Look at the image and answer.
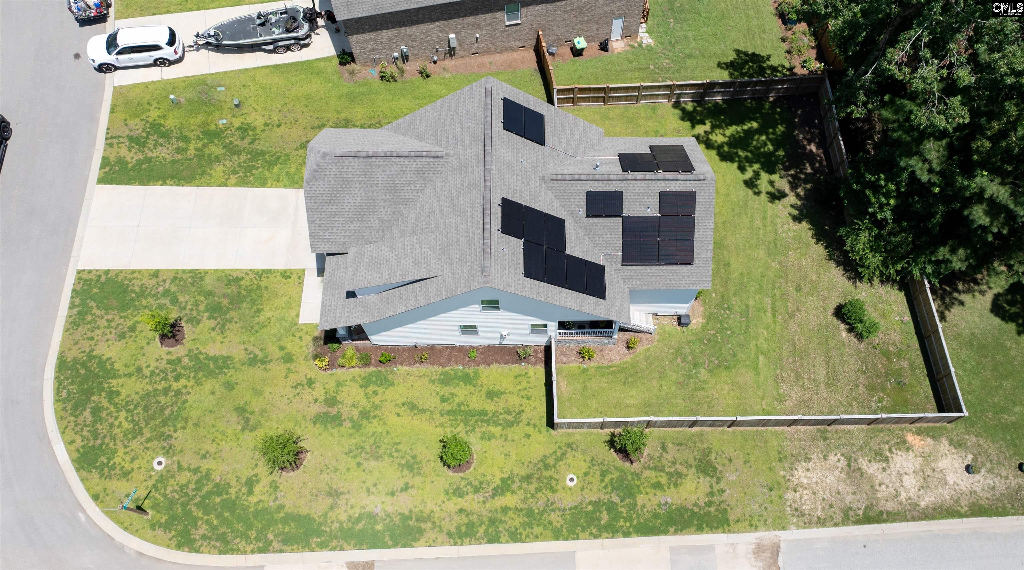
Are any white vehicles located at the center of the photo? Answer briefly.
No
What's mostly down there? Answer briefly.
grass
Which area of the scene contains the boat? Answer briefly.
top left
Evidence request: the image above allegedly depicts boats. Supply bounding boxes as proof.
[187,0,334,42]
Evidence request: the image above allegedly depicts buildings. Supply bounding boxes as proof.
[302,77,717,347]
[330,0,645,65]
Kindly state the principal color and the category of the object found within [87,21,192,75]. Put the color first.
white car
